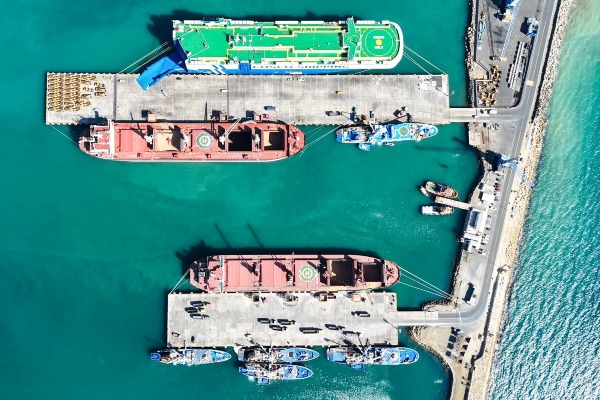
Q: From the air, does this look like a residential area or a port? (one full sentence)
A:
The area seen from above is a port.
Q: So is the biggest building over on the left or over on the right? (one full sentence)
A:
The biggest building is on the right side of the image.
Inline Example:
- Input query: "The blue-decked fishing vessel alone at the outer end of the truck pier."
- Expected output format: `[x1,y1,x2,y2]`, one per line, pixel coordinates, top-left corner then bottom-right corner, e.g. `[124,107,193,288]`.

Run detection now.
[153,347,231,368]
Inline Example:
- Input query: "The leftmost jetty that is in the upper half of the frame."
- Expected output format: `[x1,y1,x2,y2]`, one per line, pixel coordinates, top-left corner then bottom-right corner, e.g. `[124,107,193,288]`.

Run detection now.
[46,72,449,125]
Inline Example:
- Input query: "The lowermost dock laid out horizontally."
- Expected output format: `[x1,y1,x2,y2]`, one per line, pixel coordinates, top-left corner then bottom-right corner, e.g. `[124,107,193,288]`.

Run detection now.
[168,292,397,348]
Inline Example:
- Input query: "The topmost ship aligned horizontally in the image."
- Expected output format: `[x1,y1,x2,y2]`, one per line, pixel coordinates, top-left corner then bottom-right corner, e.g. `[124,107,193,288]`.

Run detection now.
[136,16,404,91]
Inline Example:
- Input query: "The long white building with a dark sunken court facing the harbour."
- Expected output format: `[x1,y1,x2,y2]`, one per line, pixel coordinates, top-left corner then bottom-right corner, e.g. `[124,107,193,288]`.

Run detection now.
[460,207,488,237]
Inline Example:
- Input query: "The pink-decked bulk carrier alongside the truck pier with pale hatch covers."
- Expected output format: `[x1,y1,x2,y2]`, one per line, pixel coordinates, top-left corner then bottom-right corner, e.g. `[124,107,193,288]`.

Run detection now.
[190,253,401,292]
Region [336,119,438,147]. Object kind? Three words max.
boat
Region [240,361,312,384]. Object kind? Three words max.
boat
